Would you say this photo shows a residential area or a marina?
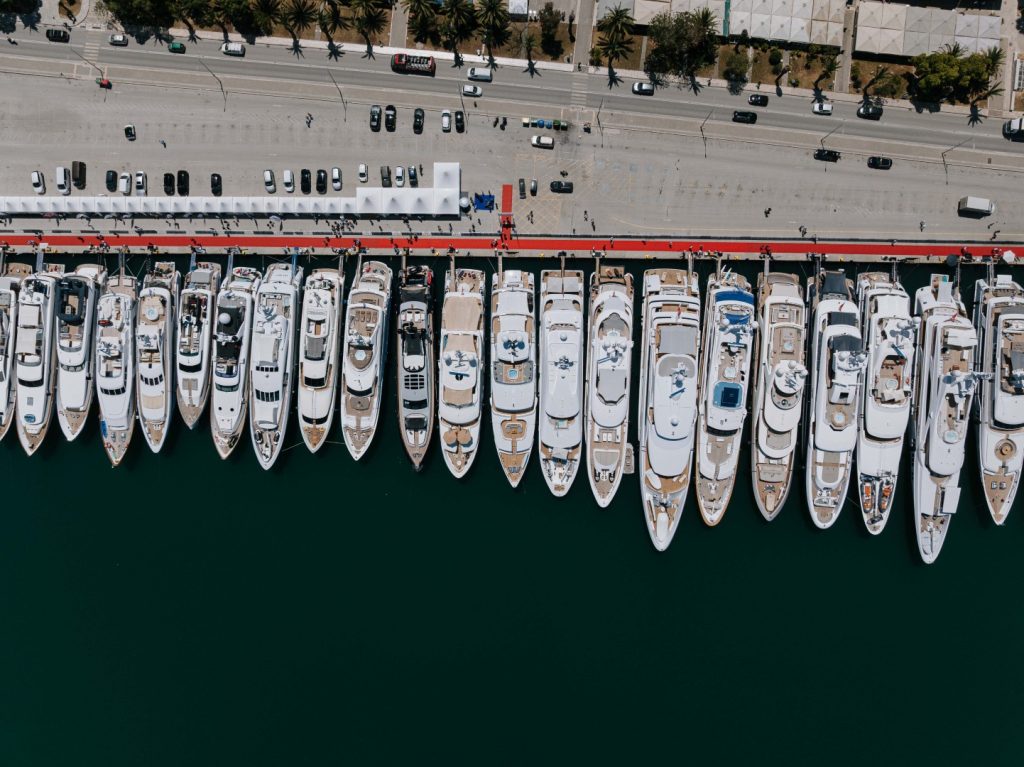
marina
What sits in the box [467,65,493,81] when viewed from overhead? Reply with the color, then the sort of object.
white vehicle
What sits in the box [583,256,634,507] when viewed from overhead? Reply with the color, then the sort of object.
white boat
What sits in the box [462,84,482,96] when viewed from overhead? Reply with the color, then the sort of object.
white vehicle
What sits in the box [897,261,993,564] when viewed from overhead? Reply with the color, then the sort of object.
white boat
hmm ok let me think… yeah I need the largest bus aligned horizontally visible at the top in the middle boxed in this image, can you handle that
[388,53,435,77]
